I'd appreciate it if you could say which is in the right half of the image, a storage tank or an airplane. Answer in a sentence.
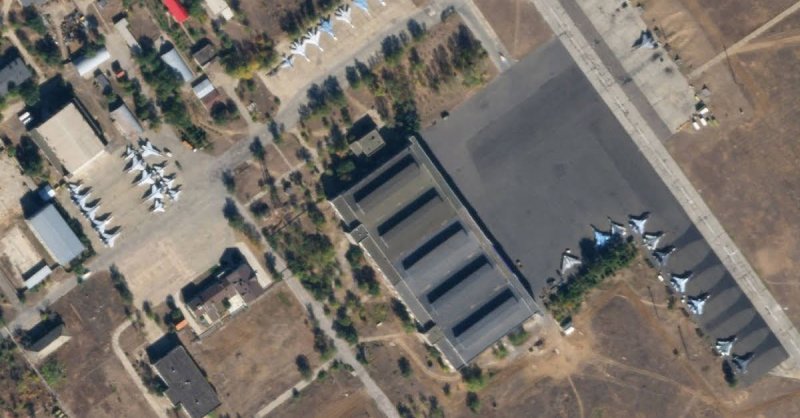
The one visible in the right half of the image is an airplane.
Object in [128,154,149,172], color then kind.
white airplane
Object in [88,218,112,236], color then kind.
white airplane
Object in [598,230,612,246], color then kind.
blue airplane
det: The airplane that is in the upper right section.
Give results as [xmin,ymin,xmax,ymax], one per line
[637,30,658,47]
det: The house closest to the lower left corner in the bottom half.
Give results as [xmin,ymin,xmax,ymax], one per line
[27,324,63,354]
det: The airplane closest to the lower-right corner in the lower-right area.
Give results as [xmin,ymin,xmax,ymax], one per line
[730,352,752,371]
